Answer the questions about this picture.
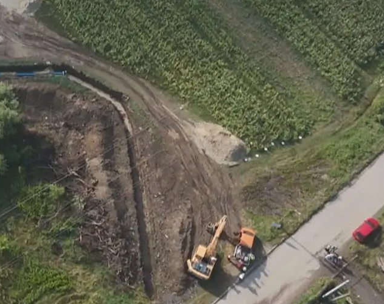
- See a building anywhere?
No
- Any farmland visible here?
Yes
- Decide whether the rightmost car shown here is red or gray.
red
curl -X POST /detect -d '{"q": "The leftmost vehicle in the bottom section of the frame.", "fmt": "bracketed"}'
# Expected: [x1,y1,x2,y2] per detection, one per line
[186,215,228,283]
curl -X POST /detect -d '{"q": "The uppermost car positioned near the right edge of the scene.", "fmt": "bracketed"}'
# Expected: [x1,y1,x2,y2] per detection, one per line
[354,219,383,242]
